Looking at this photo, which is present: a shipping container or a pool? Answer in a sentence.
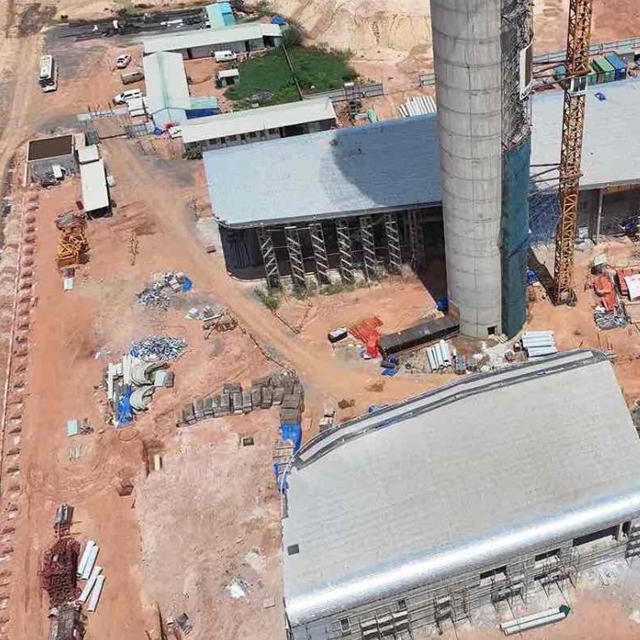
It is a shipping container that can be seen here.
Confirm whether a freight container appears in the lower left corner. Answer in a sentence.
No, no freight container appears in the lower left corner.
